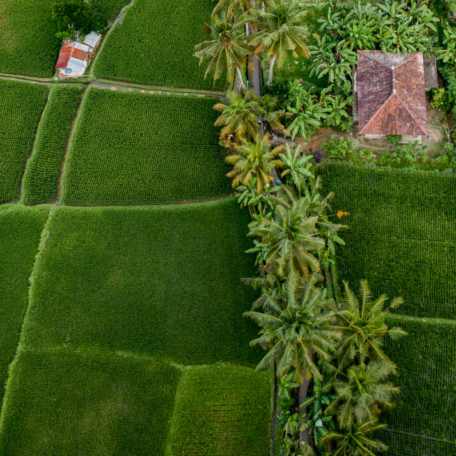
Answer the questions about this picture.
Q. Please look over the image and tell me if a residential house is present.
Yes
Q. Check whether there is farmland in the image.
Yes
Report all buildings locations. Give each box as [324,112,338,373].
[56,41,94,85]
[358,49,427,146]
